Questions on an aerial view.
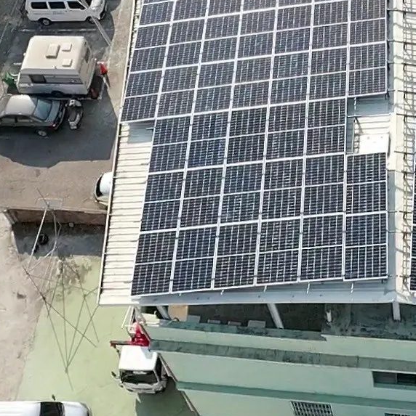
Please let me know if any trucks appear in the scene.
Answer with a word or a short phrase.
Yes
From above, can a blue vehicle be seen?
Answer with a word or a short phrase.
No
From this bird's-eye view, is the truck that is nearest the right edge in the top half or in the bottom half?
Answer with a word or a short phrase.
bottom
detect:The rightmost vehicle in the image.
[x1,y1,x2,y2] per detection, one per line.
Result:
[114,327,174,401]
